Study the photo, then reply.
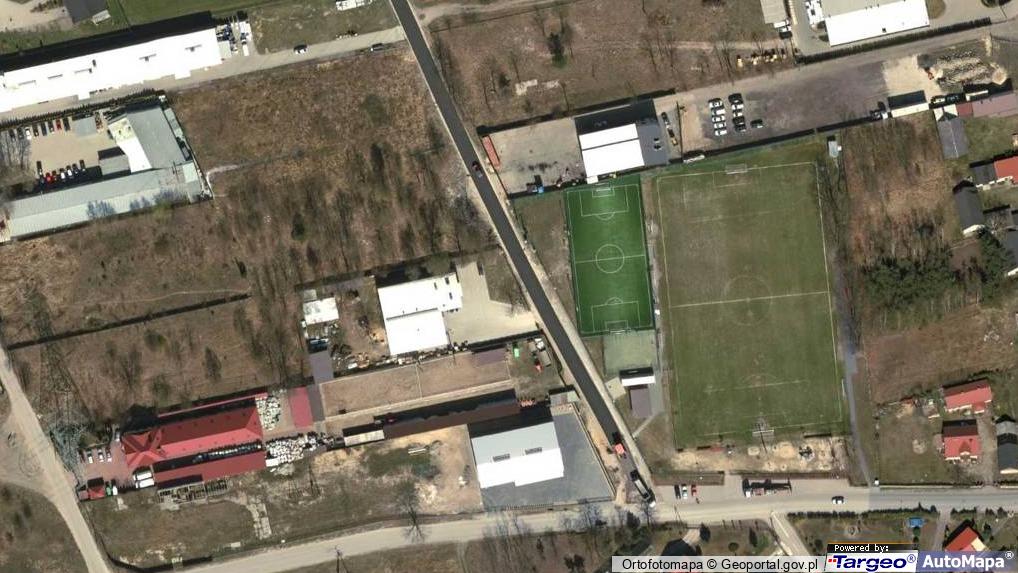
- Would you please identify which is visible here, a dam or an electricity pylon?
electricity pylon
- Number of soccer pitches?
2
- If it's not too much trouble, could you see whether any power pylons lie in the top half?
No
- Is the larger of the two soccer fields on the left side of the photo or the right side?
right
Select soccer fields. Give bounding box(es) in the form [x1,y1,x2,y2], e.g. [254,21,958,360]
[564,179,656,336]
[655,160,848,447]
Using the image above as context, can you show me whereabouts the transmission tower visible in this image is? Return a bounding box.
[33,424,89,458]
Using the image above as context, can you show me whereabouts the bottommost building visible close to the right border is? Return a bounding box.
[945,527,993,573]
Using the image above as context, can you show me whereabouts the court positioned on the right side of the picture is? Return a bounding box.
[604,331,656,376]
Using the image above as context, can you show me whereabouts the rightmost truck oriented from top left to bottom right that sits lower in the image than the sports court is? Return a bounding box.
[631,474,655,505]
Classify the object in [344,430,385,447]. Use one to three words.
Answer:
shed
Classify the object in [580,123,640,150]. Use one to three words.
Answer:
building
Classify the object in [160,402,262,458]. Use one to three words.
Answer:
house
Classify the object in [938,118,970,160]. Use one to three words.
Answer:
barn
